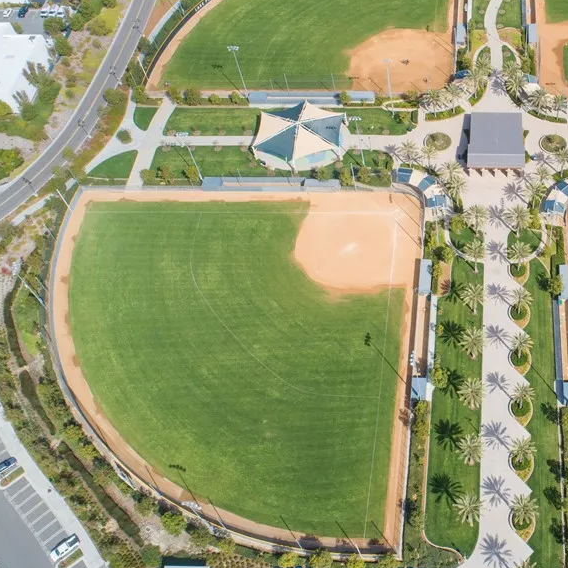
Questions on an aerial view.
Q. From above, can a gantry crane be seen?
No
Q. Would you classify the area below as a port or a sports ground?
sports ground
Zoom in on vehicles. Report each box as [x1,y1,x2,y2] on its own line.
[0,457,17,475]
[54,4,65,16]
[2,6,12,16]
[46,535,81,563]
[18,5,28,15]
[45,4,56,16]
